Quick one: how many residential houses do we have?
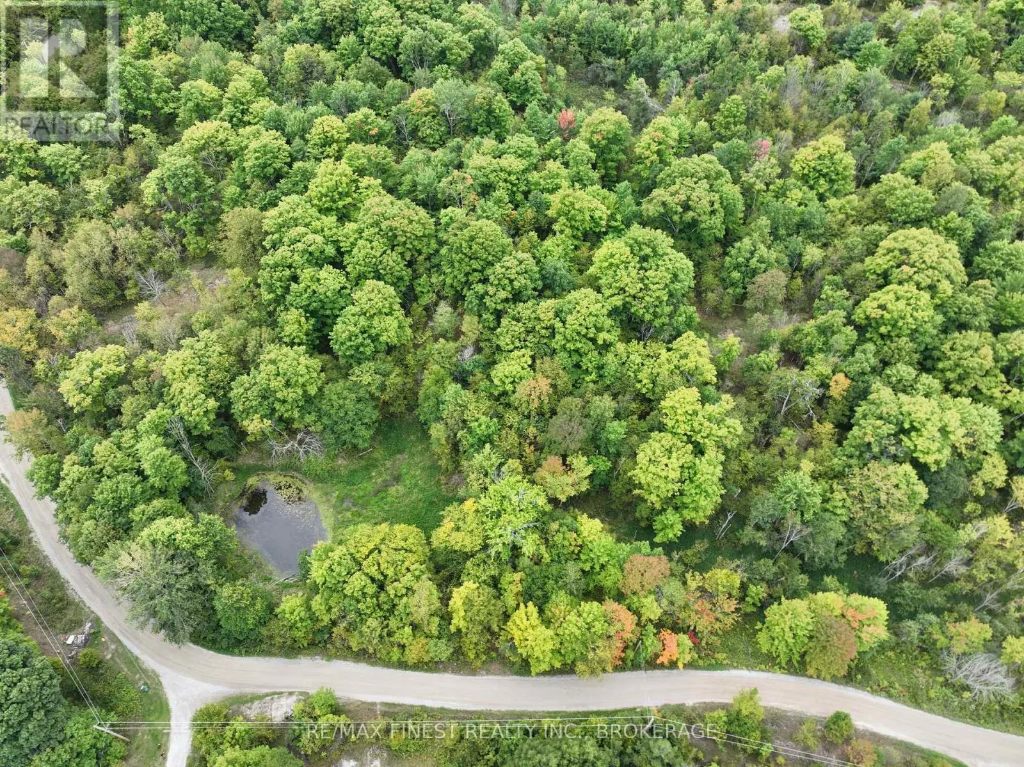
0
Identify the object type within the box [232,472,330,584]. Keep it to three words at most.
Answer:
pond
